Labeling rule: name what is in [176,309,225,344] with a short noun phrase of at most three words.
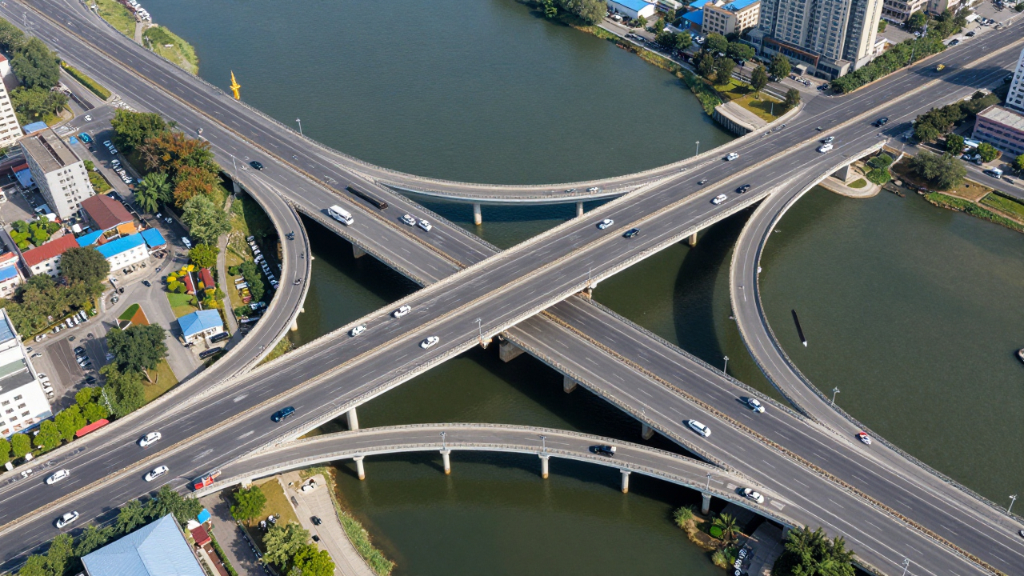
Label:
house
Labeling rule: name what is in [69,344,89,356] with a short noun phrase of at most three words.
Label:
vehicle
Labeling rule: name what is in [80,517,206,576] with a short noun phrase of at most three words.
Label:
building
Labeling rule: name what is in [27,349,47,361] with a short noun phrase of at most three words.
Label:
vehicle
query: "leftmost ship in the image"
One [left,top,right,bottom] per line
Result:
[791,311,806,346]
